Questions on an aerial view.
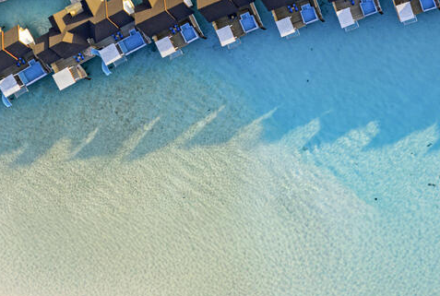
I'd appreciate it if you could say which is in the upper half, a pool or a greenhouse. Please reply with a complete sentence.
There is a pool in the upper half.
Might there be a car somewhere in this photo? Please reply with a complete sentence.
No, there appears to be no car in this shot.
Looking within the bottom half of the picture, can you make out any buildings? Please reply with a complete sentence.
No, within the bottom half of the picture there is no building.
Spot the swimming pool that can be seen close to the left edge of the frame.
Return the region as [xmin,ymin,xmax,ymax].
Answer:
[18,65,48,92]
